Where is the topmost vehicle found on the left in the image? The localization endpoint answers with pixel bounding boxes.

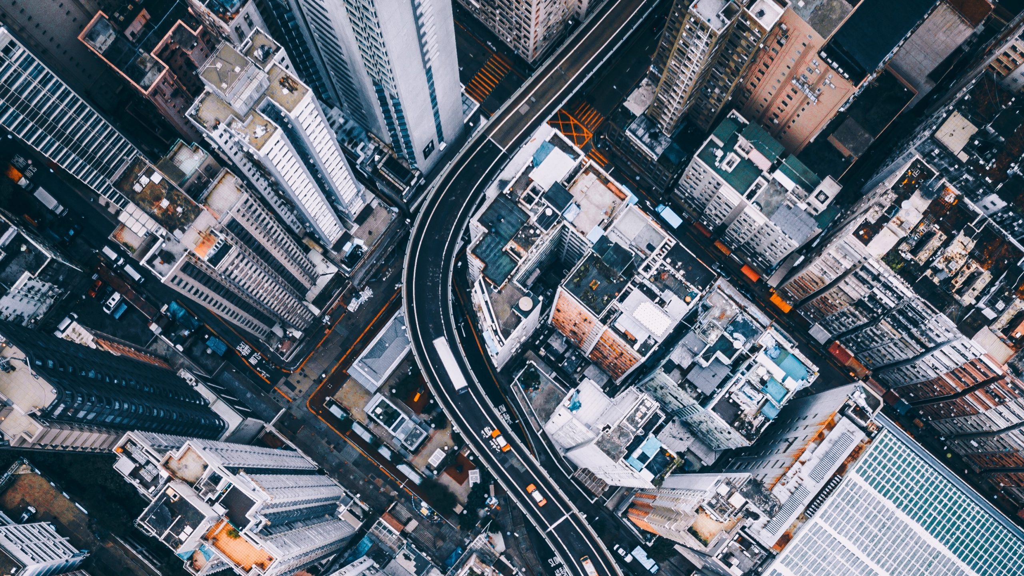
[0,159,27,185]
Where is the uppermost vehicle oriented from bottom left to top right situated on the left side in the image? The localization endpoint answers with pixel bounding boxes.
[62,223,80,241]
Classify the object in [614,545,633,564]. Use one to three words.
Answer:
car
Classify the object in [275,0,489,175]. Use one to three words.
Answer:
building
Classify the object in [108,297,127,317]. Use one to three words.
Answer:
vehicle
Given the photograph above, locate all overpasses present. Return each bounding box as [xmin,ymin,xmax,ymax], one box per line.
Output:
[402,0,654,576]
